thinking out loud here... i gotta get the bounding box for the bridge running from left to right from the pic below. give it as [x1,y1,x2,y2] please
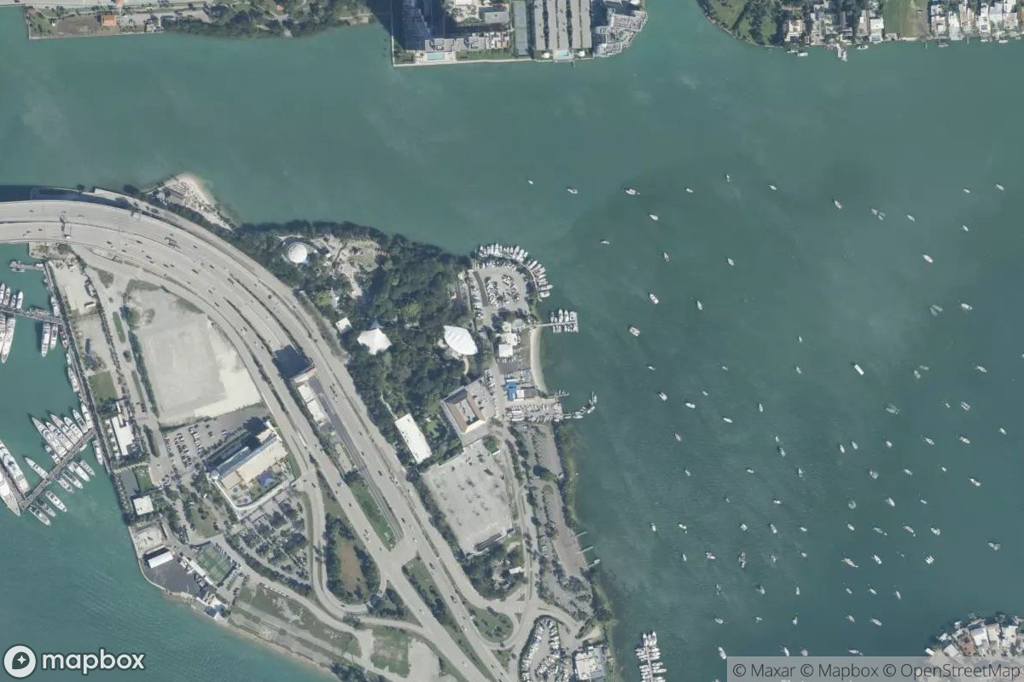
[0,200,176,279]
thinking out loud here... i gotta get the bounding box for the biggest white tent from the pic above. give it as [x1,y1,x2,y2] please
[358,328,392,355]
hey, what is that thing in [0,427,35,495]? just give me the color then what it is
white boat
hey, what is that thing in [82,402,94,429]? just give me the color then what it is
white boat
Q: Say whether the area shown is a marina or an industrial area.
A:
marina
